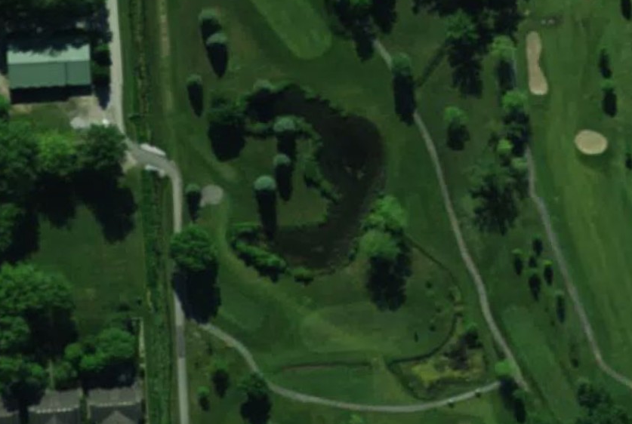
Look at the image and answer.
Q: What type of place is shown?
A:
golf course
